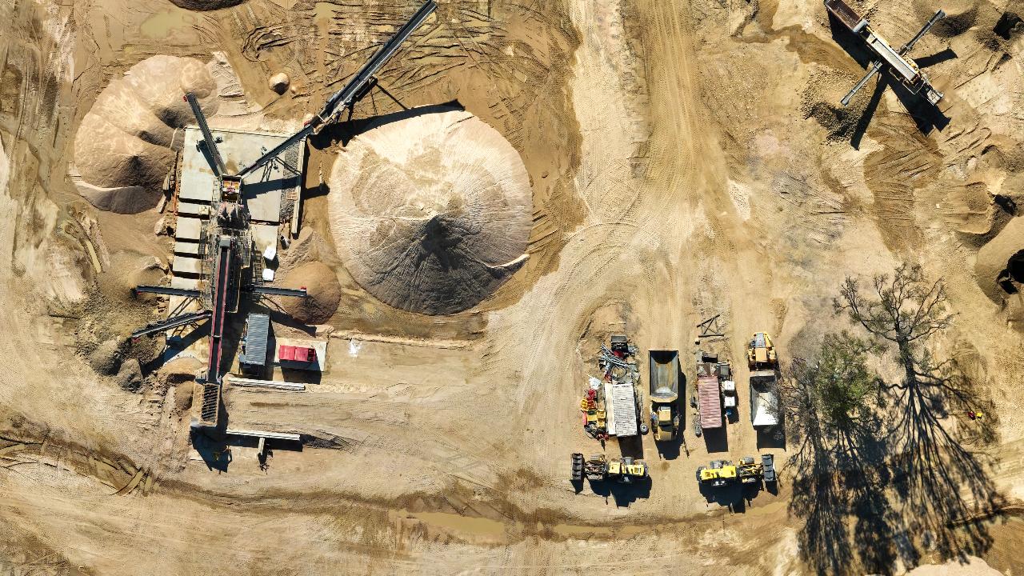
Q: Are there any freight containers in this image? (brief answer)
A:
Yes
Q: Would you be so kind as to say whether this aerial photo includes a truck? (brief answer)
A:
Yes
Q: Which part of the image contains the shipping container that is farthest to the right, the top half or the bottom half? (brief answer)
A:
bottom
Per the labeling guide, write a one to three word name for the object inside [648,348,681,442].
truck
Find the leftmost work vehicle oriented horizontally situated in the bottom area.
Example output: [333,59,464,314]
[562,456,644,485]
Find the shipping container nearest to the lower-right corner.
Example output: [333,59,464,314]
[697,374,724,430]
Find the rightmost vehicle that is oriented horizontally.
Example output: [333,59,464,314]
[697,455,780,492]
